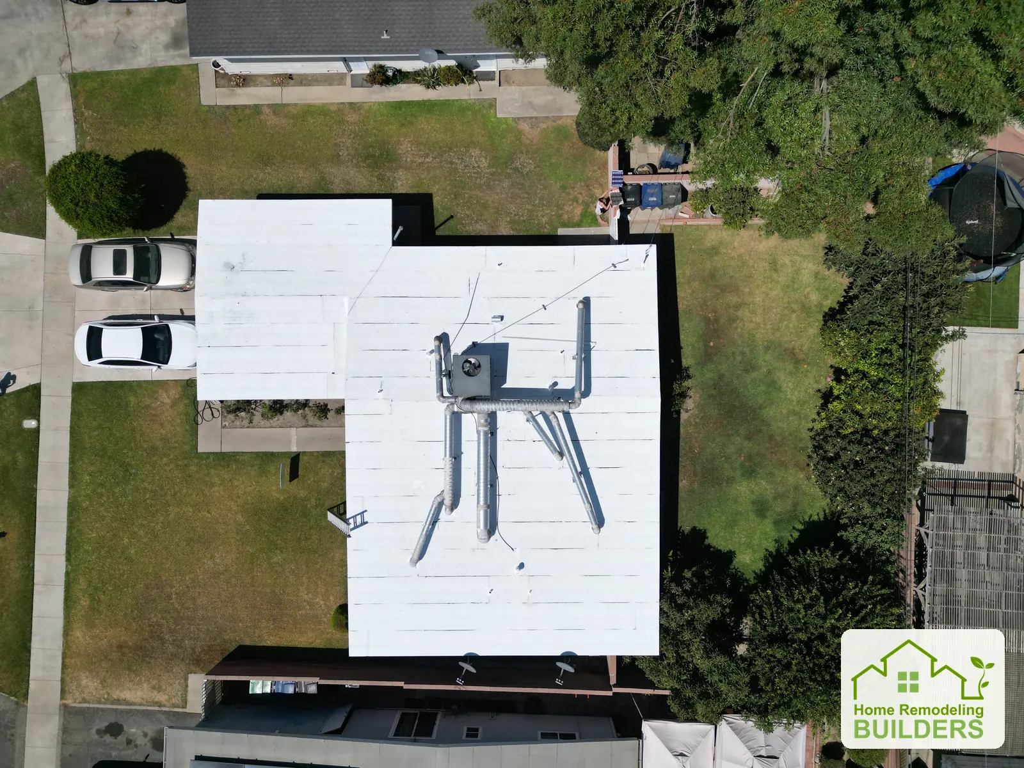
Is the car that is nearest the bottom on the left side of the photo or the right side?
left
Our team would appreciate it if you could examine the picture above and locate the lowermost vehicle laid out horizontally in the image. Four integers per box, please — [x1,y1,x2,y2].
[74,316,197,376]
